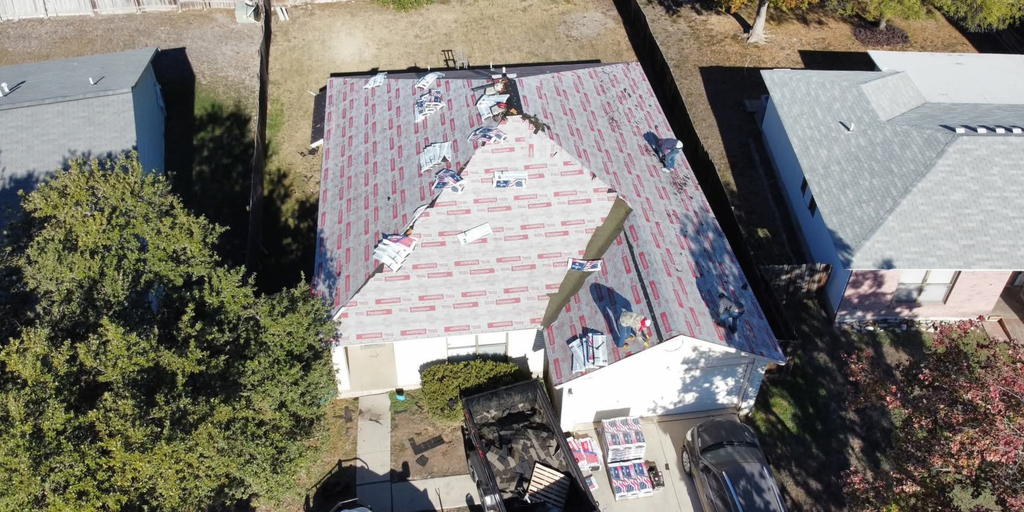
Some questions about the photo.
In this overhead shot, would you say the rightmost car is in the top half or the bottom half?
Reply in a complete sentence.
You can find the rightmost car in the bottom half.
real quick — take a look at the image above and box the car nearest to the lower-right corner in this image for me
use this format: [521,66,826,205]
[683,412,799,512]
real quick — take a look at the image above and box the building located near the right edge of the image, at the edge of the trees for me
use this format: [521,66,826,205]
[759,51,1024,377]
